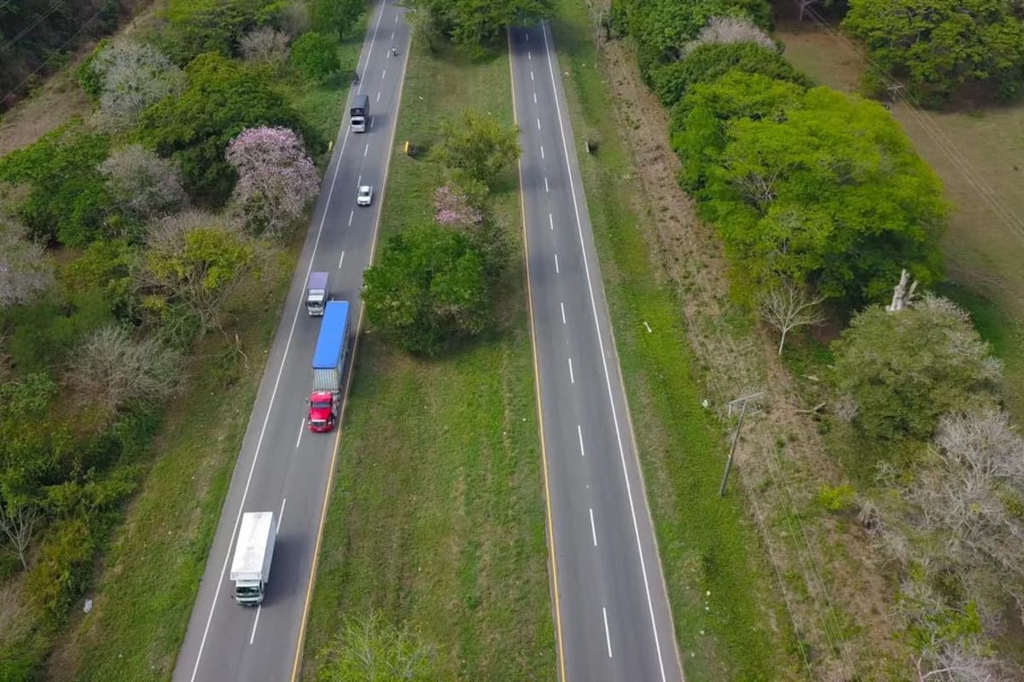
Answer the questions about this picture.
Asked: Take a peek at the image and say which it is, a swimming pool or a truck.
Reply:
truck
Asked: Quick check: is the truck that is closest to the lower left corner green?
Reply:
No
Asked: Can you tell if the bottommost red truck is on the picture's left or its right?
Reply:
left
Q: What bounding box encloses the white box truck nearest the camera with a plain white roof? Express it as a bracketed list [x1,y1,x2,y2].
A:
[231,510,277,605]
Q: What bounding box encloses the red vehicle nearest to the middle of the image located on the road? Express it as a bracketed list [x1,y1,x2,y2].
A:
[307,385,342,431]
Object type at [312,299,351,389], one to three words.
trailer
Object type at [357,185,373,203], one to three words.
car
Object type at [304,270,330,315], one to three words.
truck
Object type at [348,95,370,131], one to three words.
truck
